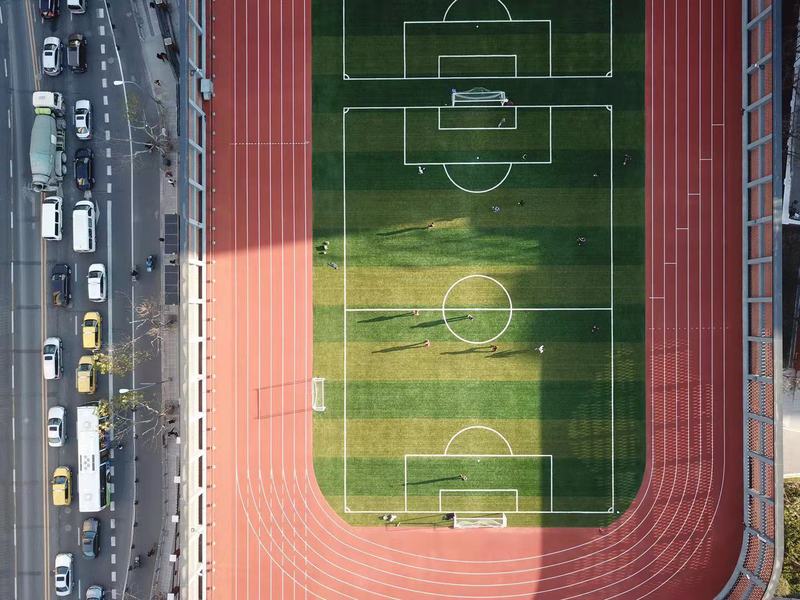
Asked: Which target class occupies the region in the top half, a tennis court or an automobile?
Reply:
automobile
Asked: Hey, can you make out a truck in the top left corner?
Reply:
Yes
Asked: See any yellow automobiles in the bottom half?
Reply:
Yes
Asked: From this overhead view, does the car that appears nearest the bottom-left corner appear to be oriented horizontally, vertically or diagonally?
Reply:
vertically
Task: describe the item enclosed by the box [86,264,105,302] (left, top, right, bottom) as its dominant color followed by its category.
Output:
white car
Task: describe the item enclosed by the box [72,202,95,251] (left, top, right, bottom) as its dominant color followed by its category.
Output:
white vehicle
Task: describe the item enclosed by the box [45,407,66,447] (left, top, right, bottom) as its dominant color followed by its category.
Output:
white car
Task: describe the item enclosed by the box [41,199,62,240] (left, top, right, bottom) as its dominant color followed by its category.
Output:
white vehicle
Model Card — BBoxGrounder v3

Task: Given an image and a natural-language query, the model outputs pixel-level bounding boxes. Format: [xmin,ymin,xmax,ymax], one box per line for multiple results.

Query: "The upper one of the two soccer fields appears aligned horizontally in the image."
[312,0,646,91]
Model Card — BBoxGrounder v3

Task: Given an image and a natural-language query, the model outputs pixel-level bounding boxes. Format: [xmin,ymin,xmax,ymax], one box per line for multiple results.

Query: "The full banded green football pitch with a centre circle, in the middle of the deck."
[312,91,647,527]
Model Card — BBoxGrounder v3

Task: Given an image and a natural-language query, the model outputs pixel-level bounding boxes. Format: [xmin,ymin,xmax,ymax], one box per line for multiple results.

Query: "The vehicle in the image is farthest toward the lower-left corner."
[53,554,73,596]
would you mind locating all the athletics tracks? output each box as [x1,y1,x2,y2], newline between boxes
[206,0,742,600]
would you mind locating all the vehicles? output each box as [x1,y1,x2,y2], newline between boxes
[34,93,66,185]
[71,100,91,139]
[80,517,100,558]
[48,266,70,306]
[53,554,73,596]
[66,0,85,12]
[72,202,95,251]
[73,148,94,190]
[77,401,109,510]
[45,407,66,447]
[40,0,59,20]
[51,466,71,505]
[86,264,105,302]
[41,338,63,379]
[80,312,101,351]
[84,587,104,600]
[41,199,62,240]
[77,357,96,395]
[42,36,62,75]
[66,32,87,73]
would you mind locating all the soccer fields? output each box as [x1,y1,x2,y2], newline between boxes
[312,0,646,91]
[312,91,647,527]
